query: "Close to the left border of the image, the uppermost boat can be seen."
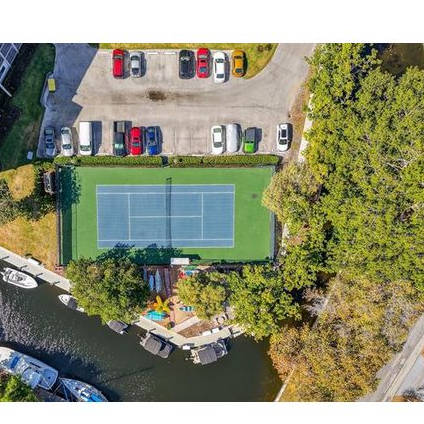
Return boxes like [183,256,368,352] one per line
[0,263,38,289]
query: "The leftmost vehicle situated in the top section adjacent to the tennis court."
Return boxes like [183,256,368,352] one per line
[43,127,56,156]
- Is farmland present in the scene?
No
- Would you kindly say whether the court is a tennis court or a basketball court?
tennis court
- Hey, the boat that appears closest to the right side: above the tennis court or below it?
below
